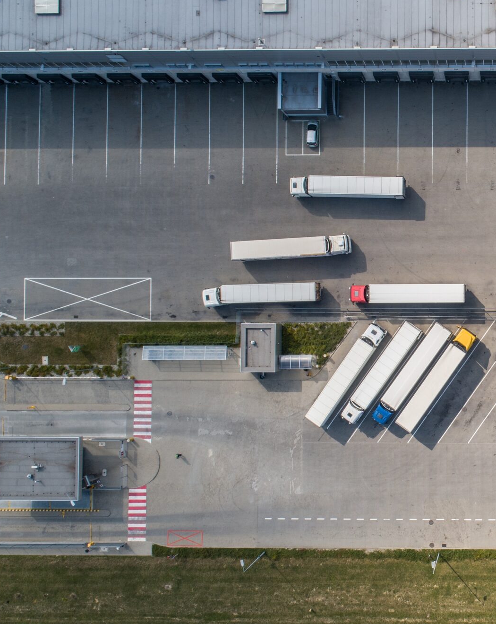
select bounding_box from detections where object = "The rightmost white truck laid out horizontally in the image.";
[350,284,466,306]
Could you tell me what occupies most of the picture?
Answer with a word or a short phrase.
paved ground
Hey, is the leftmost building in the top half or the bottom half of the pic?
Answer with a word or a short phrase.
bottom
